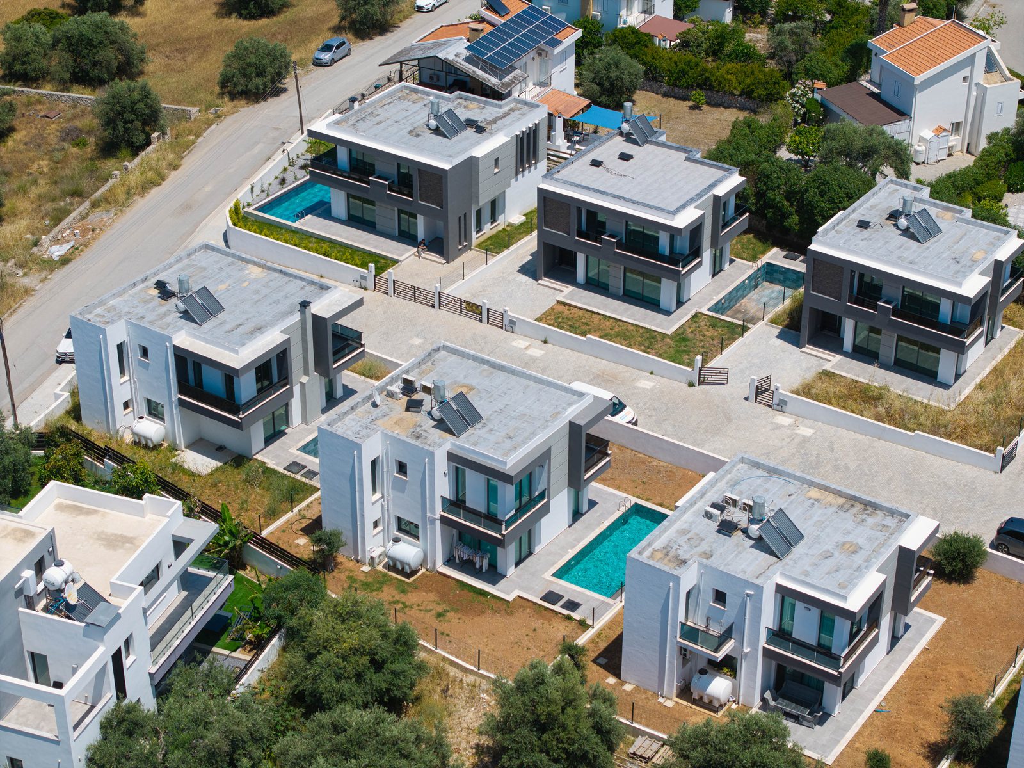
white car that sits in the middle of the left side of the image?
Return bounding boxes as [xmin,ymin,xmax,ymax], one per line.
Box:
[55,331,73,359]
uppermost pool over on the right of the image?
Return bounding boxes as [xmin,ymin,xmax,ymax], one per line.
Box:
[698,254,805,325]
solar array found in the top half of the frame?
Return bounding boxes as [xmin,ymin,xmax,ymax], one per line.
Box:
[465,5,585,104]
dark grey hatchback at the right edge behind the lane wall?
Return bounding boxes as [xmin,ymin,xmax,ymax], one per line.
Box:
[992,516,1024,558]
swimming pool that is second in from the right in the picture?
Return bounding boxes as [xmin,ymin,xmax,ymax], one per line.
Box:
[542,496,673,604]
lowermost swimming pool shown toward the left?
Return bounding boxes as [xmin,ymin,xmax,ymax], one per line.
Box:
[287,430,319,463]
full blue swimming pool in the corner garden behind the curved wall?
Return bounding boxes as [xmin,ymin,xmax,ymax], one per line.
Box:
[252,177,333,225]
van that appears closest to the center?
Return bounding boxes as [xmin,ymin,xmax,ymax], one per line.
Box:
[565,376,639,429]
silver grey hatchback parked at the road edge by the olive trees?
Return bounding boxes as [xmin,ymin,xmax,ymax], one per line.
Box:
[316,34,362,65]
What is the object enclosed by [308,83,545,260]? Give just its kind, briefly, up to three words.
house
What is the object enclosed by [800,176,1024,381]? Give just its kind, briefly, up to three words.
house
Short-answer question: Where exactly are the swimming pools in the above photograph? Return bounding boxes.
[542,496,673,604]
[252,177,333,225]
[287,430,319,463]
[698,254,805,325]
